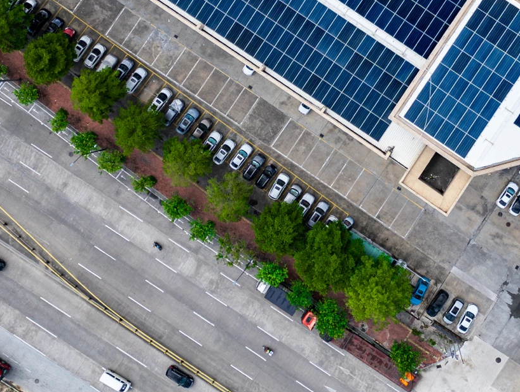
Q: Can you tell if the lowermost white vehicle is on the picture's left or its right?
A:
left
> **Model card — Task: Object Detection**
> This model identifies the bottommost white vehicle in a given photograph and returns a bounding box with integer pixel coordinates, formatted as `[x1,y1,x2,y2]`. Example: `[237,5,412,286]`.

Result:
[98,368,132,392]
